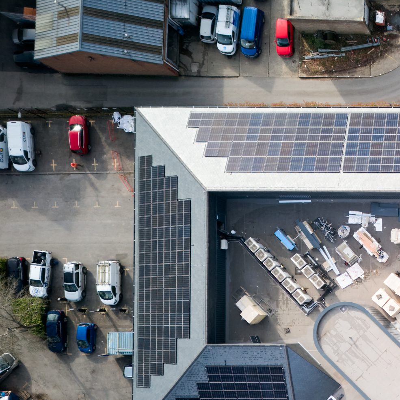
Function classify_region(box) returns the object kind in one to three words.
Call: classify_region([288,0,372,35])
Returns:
shed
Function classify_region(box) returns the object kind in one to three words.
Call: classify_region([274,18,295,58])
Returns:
car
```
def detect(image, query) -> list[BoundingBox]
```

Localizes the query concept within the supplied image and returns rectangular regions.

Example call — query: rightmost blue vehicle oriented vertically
[241,4,265,59]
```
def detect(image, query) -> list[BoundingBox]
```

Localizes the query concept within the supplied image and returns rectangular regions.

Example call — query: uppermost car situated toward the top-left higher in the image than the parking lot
[10,24,35,48]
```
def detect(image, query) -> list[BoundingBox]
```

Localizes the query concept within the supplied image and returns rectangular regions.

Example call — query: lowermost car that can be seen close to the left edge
[0,346,26,389]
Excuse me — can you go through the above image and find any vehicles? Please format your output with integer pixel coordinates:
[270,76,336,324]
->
[7,255,32,296]
[215,2,242,57]
[62,262,88,304]
[241,4,265,59]
[28,250,56,298]
[46,310,71,354]
[0,346,26,389]
[0,123,15,173]
[198,7,218,46]
[274,18,295,58]
[10,24,35,48]
[10,48,51,70]
[6,120,38,172]
[66,115,92,156]
[93,260,123,306]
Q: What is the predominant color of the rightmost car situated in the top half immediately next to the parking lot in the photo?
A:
red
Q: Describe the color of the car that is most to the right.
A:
red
